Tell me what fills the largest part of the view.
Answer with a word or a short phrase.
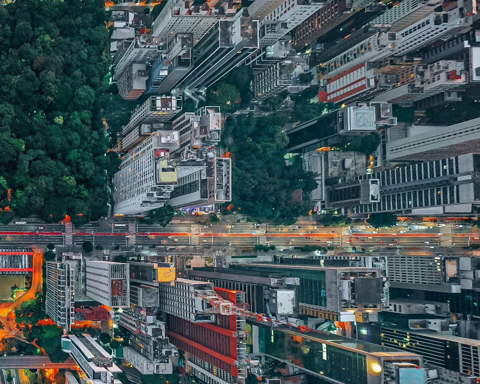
buildings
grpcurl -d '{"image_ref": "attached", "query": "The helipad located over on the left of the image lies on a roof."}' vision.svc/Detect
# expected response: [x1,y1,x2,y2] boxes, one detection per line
[157,267,176,282]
